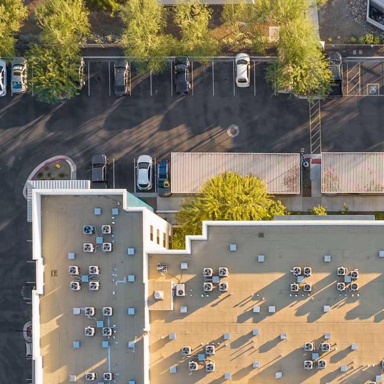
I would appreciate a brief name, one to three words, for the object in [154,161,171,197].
car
